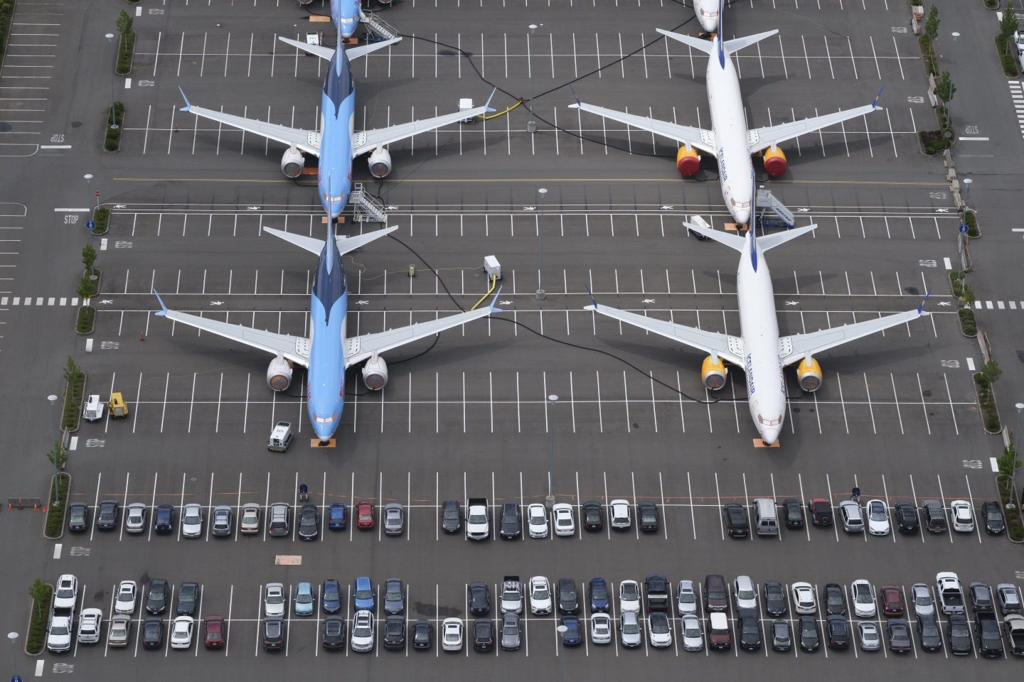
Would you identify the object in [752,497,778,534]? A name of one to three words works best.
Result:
vehicle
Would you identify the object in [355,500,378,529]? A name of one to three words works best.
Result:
car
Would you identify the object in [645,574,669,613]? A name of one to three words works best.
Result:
truck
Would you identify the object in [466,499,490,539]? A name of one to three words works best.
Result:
truck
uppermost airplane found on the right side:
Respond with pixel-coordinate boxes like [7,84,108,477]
[691,0,719,37]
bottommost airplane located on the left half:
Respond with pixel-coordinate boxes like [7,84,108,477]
[154,166,502,444]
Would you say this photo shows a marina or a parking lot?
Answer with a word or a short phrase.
parking lot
